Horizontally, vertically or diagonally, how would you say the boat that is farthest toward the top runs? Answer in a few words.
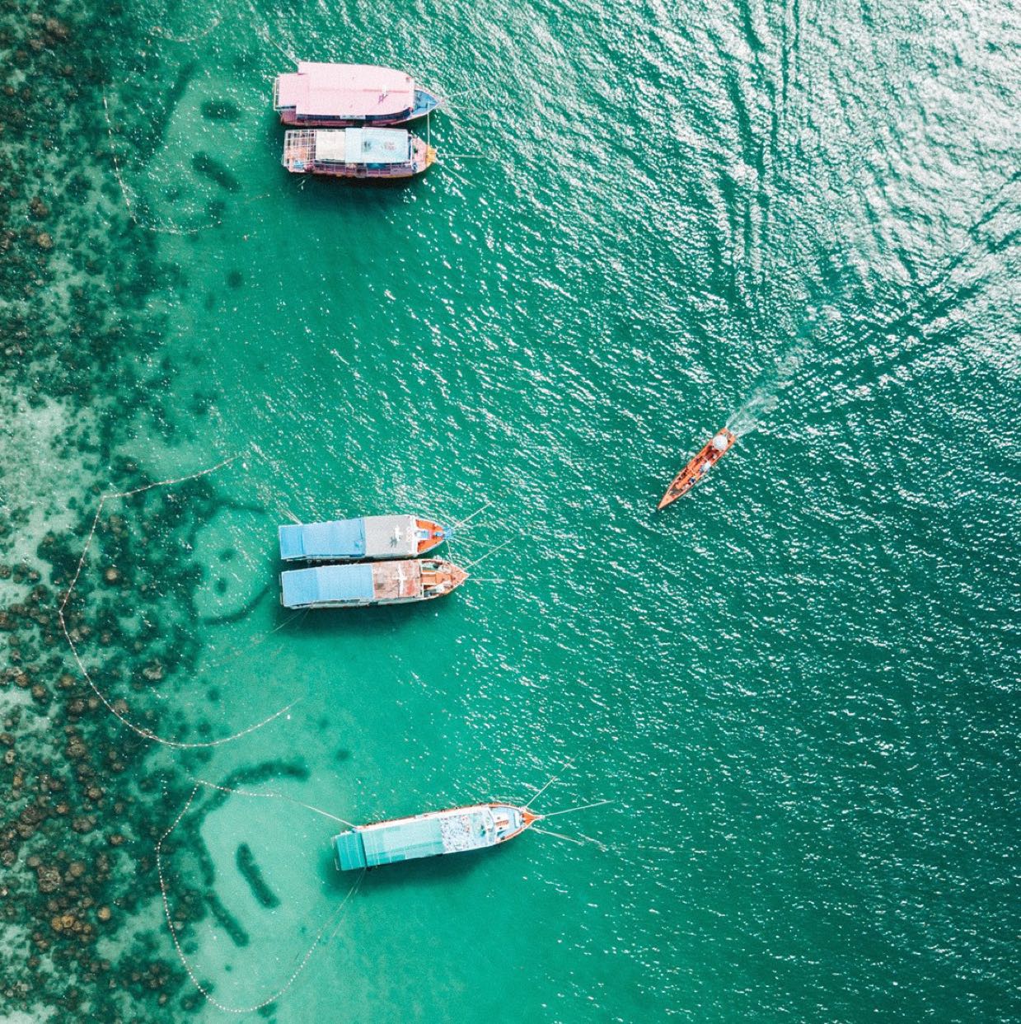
horizontally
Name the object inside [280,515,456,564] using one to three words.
boat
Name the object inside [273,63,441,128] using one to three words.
boat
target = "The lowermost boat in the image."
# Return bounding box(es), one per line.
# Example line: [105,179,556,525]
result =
[335,799,544,871]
